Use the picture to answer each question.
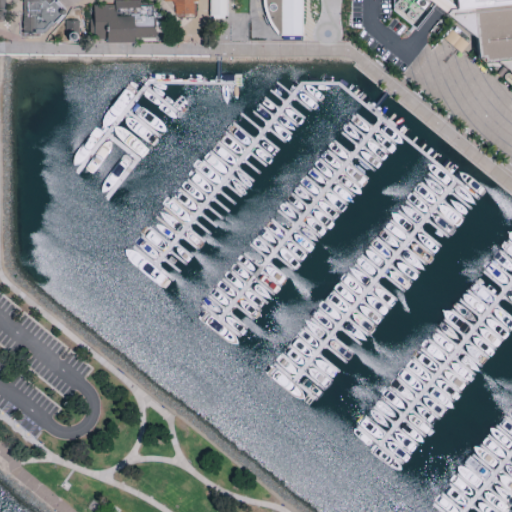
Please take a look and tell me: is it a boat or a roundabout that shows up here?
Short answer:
boat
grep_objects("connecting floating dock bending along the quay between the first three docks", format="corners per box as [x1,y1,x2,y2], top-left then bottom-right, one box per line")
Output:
[296,76,483,204]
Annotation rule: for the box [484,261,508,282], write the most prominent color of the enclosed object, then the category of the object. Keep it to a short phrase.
white boat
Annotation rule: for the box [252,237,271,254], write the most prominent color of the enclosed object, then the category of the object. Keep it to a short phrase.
white boat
